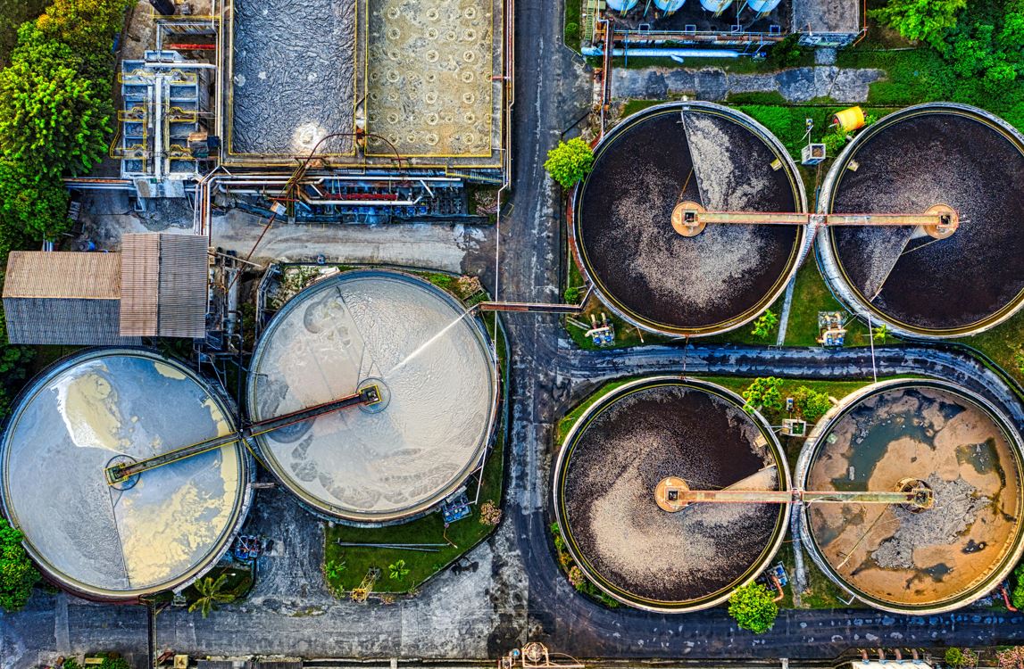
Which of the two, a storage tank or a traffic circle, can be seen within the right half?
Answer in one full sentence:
The one visible within the right half is a storage tank.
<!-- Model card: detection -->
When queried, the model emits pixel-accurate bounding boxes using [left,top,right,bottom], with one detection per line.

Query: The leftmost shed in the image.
[2,251,143,345]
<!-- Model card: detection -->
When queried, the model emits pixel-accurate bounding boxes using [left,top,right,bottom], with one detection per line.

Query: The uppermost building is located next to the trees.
[781,0,868,48]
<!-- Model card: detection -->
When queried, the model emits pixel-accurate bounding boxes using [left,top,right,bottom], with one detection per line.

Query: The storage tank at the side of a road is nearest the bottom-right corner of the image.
[789,376,1024,615]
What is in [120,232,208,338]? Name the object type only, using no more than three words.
shed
